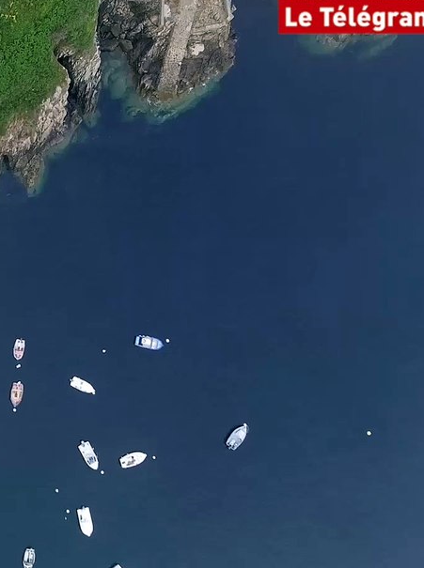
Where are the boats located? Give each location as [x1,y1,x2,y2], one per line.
[70,376,96,395]
[23,549,36,568]
[80,441,101,472]
[121,452,149,468]
[136,334,166,351]
[14,338,27,360]
[11,381,25,408]
[227,425,249,451]
[78,507,94,539]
